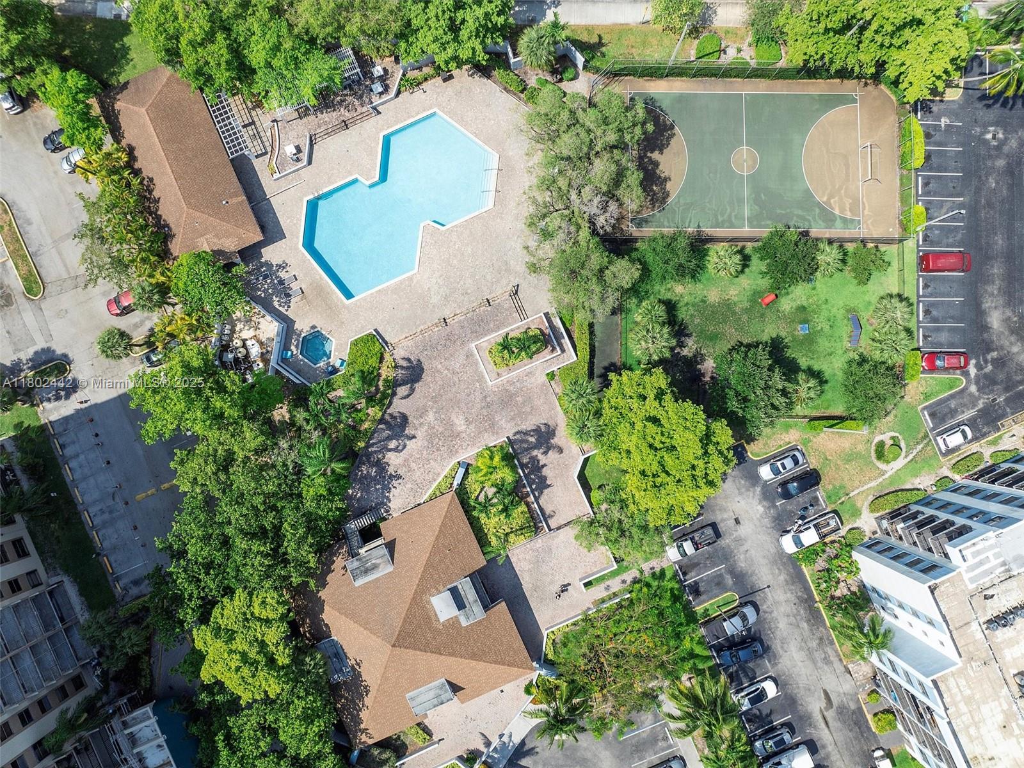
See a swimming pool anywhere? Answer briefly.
Yes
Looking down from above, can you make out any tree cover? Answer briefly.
Yes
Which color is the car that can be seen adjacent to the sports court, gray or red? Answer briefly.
red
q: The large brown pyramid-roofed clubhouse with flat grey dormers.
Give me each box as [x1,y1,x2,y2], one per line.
[279,460,559,767]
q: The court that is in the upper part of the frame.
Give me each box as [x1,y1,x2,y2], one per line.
[592,76,899,237]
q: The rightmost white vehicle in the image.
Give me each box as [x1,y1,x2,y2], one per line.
[932,425,972,452]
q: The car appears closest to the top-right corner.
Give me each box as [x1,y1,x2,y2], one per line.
[916,251,970,273]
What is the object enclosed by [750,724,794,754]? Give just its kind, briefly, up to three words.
car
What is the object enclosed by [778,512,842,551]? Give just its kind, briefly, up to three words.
truck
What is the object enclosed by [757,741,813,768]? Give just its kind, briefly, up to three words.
truck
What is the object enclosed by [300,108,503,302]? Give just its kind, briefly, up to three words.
swimming pool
